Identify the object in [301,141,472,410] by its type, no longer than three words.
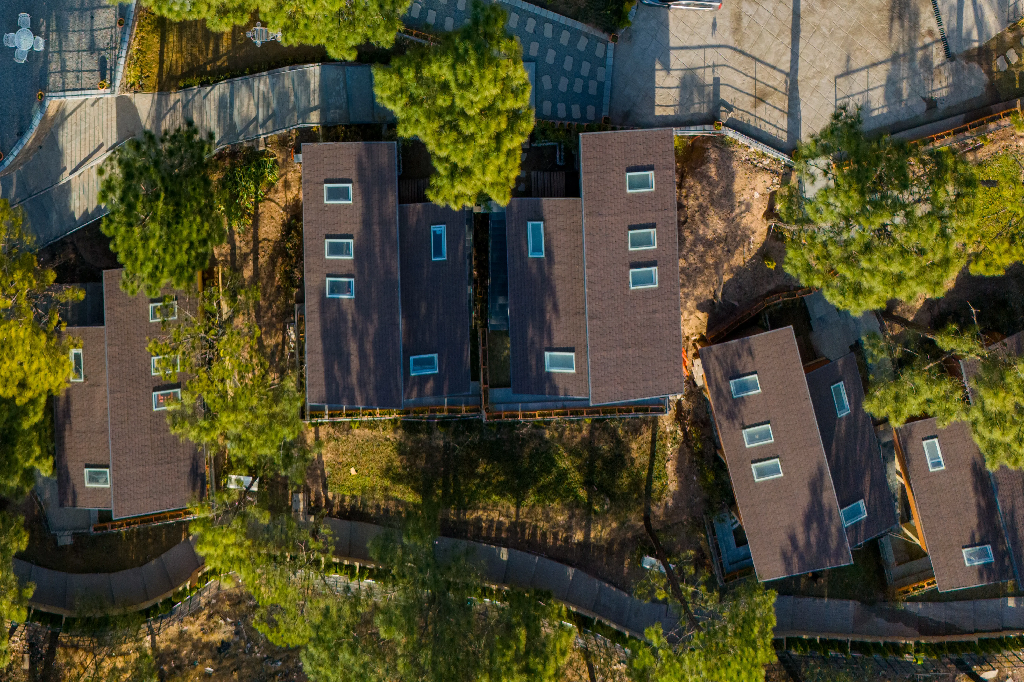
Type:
house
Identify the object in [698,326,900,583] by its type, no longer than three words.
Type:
house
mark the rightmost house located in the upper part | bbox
[507,127,685,406]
